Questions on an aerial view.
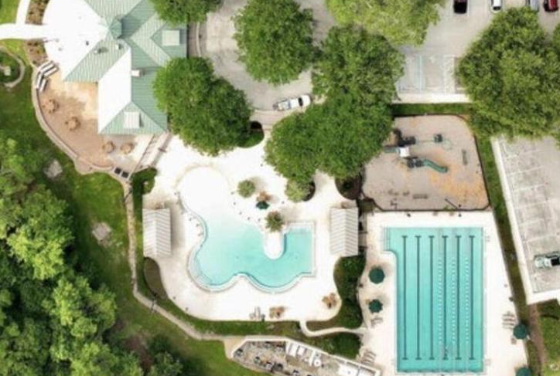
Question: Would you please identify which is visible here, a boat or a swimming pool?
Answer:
swimming pool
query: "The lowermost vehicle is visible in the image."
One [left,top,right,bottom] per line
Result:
[533,252,560,268]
